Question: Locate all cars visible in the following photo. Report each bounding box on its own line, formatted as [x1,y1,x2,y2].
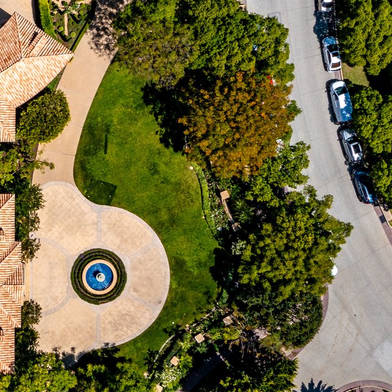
[320,260,338,286]
[320,37,341,73]
[339,127,364,164]
[350,167,376,205]
[315,0,332,13]
[328,80,353,124]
